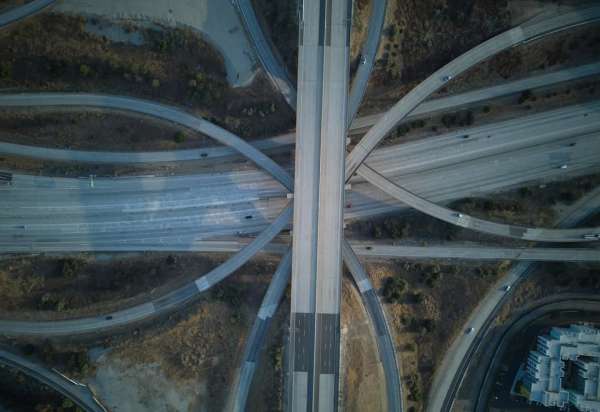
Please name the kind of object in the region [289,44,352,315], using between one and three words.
bridge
